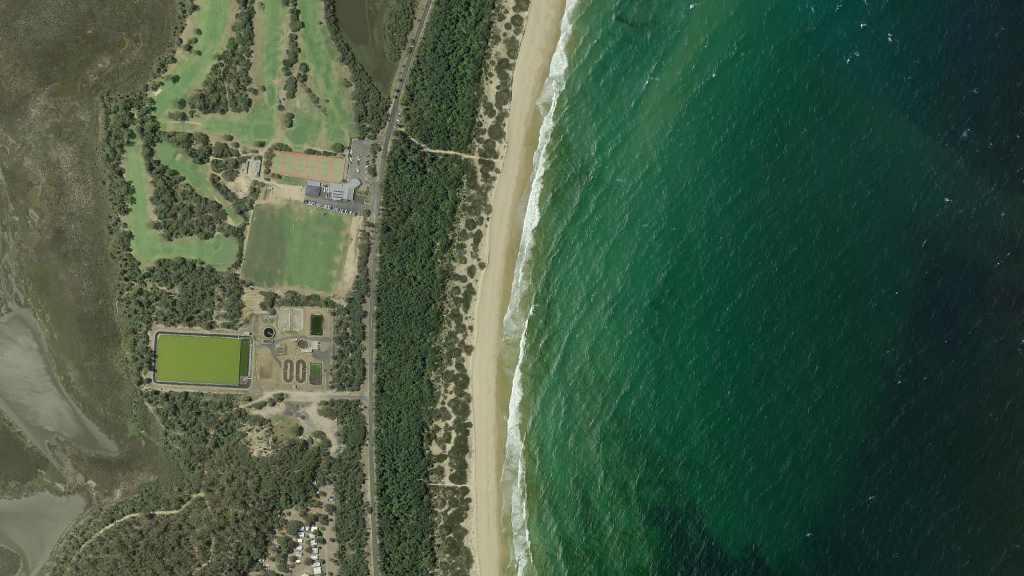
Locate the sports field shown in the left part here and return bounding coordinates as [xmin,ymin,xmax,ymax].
[243,177,354,293]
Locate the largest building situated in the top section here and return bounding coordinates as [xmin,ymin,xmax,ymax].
[329,179,361,201]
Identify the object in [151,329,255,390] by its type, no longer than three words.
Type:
pond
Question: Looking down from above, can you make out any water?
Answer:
Yes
